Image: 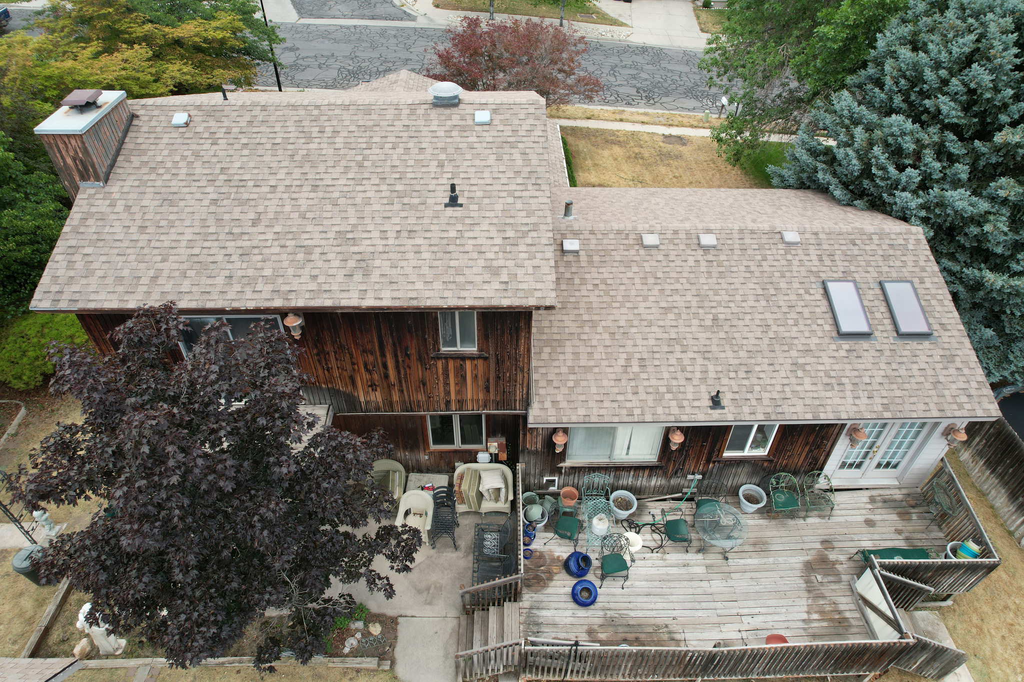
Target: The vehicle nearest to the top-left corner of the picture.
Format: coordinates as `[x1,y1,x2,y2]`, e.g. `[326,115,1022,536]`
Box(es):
[0,7,20,31]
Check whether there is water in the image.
No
